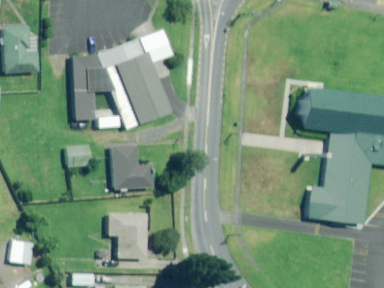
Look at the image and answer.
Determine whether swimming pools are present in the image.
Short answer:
No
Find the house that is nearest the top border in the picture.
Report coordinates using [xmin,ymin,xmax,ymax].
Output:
[2,26,40,75]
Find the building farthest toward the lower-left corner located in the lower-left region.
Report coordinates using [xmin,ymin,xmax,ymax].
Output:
[6,239,34,266]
